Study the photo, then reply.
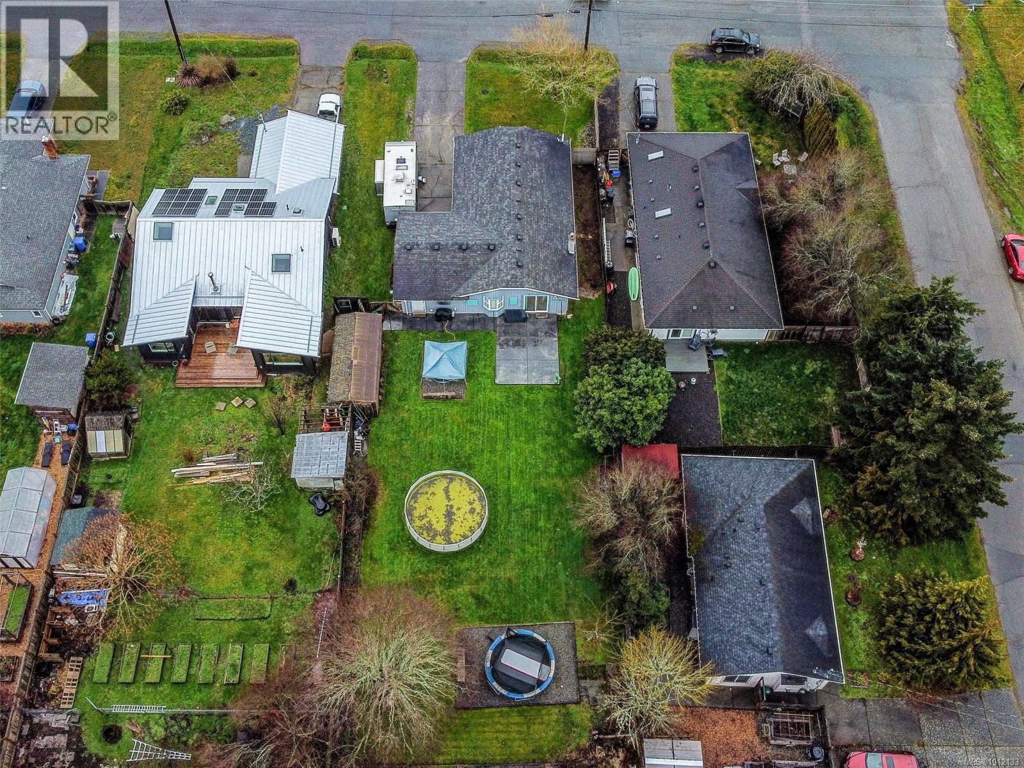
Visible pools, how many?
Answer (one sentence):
The picture shows 1 pool.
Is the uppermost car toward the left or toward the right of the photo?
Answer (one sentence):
You can find the uppermost car on the right side of the picture.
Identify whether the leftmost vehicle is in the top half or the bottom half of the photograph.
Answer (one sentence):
It is in the top half that the leftmost vehicle appears.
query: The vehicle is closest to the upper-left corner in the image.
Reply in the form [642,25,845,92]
[0,80,40,123]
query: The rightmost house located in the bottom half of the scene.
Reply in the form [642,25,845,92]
[680,455,852,694]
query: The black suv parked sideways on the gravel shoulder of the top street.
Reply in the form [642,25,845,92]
[709,25,764,55]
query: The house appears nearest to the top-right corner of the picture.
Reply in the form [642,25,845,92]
[627,130,784,345]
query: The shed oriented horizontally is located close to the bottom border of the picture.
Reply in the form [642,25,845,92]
[643,739,703,768]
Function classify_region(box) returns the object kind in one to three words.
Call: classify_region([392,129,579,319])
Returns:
house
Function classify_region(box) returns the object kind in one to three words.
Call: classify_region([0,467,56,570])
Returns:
greenhouse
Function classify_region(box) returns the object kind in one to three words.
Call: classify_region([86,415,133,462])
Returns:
shed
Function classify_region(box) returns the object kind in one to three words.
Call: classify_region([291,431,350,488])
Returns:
shed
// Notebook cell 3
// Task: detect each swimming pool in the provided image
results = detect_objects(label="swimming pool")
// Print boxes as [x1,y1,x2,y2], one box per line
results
[405,470,489,554]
